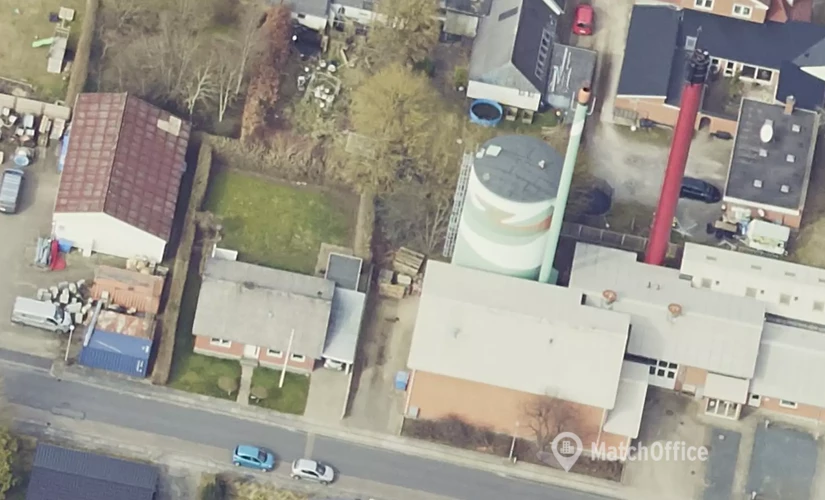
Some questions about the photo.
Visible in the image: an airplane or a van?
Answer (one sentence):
The one in the frame is a van.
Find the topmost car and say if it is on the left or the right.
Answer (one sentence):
You can find the topmost car on the right side of the picture.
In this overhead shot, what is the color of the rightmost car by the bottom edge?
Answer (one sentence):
In this view, the rightmost car by the bottom edge is white.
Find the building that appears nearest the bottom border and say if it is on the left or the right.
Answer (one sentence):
The building that appears nearest the bottom border is on the left side of the image.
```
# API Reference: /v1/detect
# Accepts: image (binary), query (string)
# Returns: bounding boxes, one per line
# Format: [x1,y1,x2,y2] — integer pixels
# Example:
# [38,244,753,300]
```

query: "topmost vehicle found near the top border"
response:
[572,6,594,39]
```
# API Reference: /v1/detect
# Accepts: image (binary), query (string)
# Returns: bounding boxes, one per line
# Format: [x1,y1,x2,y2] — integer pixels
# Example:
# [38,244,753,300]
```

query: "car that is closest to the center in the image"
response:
[322,357,342,370]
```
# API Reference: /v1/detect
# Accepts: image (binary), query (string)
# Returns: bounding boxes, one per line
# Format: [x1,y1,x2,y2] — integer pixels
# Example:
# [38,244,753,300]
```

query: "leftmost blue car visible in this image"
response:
[230,444,276,473]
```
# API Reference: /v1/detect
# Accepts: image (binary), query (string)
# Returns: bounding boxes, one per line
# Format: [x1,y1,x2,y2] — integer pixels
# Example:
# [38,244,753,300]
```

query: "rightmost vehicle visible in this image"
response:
[678,177,723,206]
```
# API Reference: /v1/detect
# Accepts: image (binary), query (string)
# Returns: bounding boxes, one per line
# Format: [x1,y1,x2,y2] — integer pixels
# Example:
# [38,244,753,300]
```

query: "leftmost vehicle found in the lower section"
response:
[10,295,73,336]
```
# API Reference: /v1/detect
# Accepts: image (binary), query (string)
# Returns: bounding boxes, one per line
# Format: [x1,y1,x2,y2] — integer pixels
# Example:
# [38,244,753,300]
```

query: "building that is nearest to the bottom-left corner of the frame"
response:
[26,442,162,500]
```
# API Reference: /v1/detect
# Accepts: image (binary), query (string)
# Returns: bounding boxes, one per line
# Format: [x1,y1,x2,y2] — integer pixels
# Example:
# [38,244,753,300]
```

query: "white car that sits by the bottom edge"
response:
[288,457,337,486]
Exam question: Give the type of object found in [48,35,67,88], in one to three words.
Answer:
shed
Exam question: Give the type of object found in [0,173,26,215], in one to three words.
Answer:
vehicle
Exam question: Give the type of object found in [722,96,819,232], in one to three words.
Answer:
house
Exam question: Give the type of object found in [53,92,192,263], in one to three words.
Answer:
barn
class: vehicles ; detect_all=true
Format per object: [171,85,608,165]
[288,457,337,486]
[0,173,26,215]
[572,6,594,39]
[230,444,276,473]
[10,295,73,336]
[322,357,342,370]
[678,177,723,206]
